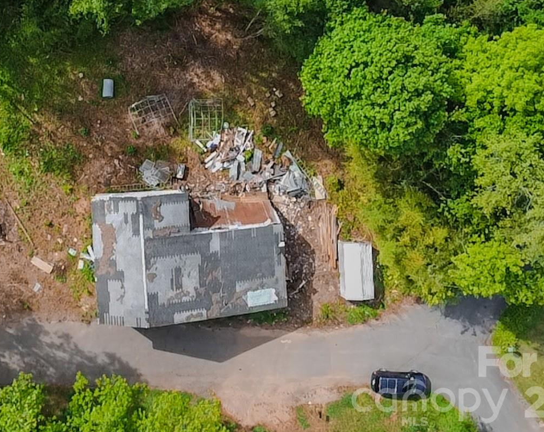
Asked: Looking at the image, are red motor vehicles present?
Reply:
No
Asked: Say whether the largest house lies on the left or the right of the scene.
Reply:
left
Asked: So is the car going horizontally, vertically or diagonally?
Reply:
horizontally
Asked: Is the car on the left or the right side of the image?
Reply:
right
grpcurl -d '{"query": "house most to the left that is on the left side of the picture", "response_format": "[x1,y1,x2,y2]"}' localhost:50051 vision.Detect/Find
[90,190,289,333]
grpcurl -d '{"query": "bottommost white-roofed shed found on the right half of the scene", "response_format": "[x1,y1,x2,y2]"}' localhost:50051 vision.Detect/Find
[332,239,374,303]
